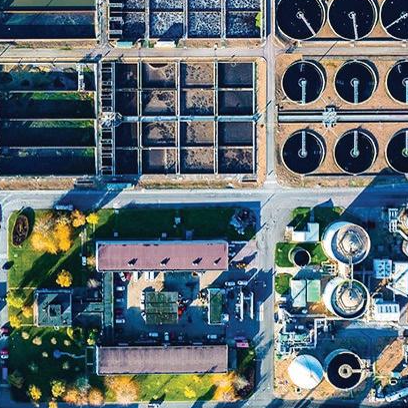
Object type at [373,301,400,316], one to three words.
building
